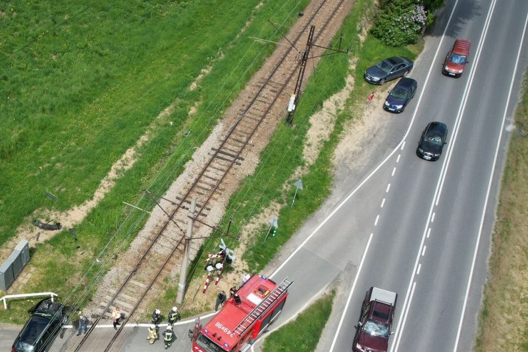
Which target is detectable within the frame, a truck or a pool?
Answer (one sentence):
I can see a truck in this picture.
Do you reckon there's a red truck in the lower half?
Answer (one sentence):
Yes, I can see a red truck in the lower half.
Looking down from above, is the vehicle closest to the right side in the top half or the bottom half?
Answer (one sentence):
Seen from above, the vehicle closest to the right side lies in the top half of the view.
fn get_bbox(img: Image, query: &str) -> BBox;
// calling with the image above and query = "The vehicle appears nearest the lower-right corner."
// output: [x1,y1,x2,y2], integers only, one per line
[356,288,409,352]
